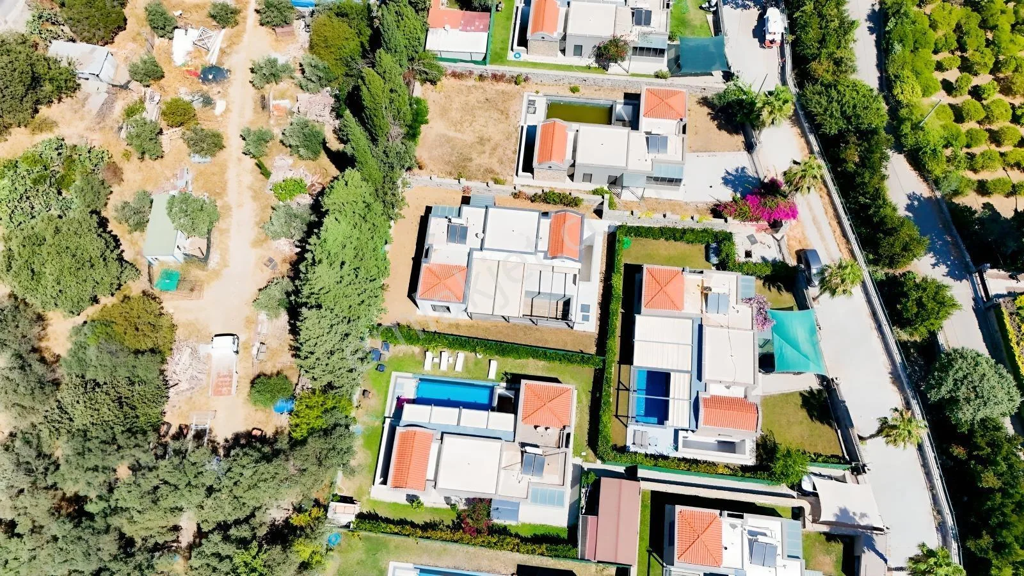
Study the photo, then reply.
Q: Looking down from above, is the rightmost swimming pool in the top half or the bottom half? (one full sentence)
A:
The rightmost swimming pool is in the bottom half of the image.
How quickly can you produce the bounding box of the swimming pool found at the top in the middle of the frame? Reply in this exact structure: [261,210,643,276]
[544,100,616,126]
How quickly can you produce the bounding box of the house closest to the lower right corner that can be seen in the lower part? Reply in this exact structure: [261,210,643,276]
[660,503,802,576]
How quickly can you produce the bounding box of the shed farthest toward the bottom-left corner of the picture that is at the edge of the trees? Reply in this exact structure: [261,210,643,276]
[327,502,362,526]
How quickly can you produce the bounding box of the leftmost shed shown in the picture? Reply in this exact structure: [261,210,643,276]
[49,40,117,94]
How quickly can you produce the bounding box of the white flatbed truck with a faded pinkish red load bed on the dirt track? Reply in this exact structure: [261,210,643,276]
[206,334,240,398]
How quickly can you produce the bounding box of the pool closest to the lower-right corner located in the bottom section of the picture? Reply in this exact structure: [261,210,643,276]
[630,366,685,430]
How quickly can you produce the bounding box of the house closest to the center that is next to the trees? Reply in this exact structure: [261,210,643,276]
[417,194,606,337]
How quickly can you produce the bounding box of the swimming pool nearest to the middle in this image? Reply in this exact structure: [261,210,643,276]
[411,374,497,414]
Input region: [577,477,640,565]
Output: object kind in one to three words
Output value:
shed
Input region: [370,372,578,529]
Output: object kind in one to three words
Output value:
house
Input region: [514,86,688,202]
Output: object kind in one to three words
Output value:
house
